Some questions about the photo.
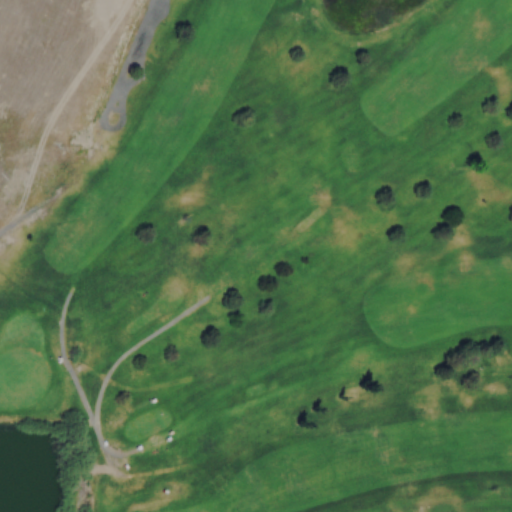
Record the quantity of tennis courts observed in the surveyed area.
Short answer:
0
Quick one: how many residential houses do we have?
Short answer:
0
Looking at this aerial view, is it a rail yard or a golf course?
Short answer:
golf course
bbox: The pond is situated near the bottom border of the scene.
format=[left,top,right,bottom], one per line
[0,428,62,512]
